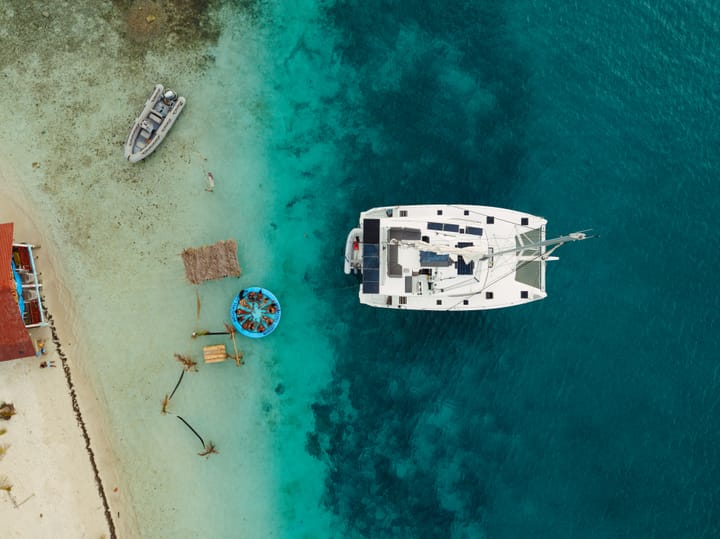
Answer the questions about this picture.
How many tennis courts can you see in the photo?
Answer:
zero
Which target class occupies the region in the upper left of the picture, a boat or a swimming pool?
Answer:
boat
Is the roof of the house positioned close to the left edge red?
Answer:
Yes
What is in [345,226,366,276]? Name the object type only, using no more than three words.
boat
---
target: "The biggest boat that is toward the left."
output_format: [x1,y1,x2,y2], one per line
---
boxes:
[125,82,186,169]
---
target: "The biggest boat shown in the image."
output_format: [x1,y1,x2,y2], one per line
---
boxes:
[361,205,602,311]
